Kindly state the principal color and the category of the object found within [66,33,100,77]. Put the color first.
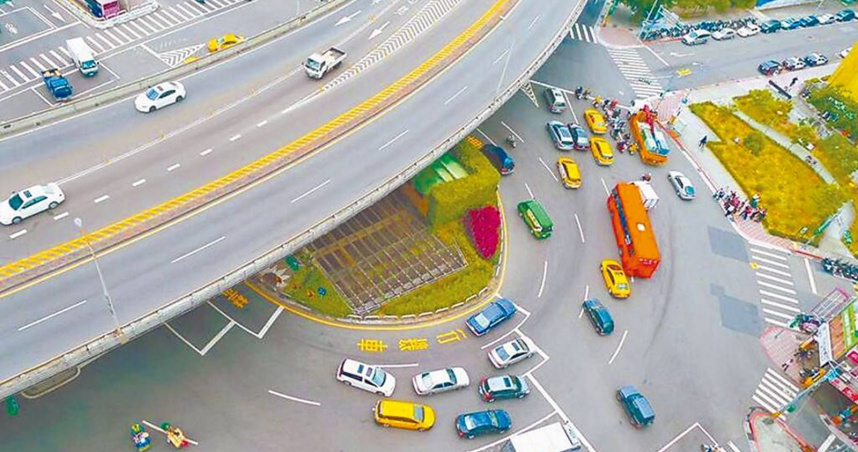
white truck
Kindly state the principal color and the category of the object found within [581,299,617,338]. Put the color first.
blue car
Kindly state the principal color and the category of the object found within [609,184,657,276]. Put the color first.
orange bus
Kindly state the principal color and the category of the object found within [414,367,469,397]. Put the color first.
white car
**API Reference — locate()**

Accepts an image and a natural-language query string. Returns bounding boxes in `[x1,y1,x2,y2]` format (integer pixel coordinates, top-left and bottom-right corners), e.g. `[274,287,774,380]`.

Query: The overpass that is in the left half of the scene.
[0,0,587,404]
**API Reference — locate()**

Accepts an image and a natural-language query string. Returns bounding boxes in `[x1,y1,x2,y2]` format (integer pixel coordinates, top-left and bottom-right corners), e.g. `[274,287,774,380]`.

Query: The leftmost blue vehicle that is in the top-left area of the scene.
[42,69,73,102]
